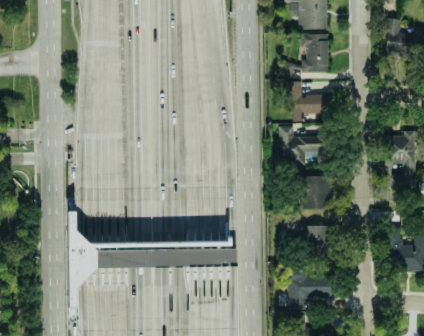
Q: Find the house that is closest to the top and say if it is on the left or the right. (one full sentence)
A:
The house that is closest to the top sits on the right side.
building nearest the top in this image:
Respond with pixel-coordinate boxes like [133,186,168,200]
[278,0,328,30]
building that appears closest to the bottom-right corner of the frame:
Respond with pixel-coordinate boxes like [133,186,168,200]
[392,225,424,272]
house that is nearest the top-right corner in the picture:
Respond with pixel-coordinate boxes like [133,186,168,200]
[388,18,406,52]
